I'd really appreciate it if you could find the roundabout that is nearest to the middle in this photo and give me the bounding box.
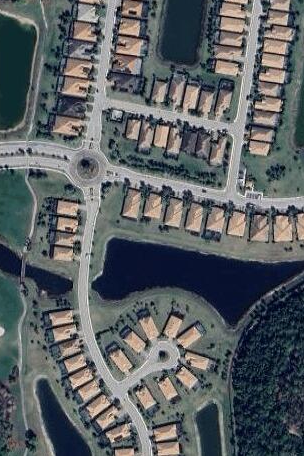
[67,147,108,187]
